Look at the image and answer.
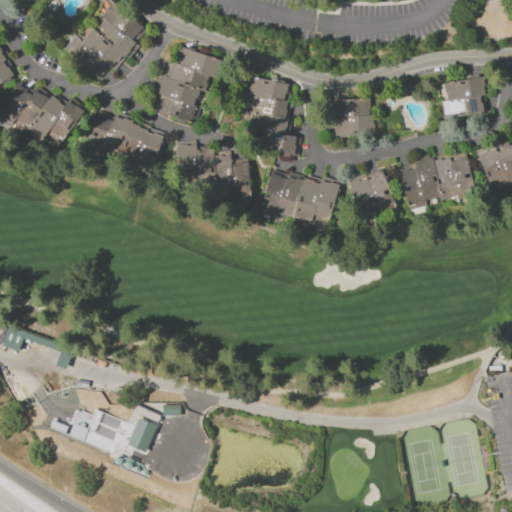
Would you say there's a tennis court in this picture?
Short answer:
Yes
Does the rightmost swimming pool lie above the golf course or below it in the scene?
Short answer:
above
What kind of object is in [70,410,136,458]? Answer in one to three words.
building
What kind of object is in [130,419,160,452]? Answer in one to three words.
barn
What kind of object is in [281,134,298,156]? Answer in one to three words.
building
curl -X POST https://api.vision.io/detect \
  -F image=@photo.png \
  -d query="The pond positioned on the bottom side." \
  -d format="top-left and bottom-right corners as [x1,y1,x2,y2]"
[212,428,302,488]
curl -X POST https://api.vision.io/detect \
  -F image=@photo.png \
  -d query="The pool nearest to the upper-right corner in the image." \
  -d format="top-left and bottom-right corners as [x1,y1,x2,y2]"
[386,96,430,132]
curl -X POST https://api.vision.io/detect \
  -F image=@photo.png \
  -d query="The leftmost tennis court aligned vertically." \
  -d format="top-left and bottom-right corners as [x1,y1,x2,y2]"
[405,427,450,502]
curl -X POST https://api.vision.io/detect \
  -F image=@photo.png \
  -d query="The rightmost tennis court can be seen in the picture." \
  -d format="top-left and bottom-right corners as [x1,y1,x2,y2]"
[442,420,488,497]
